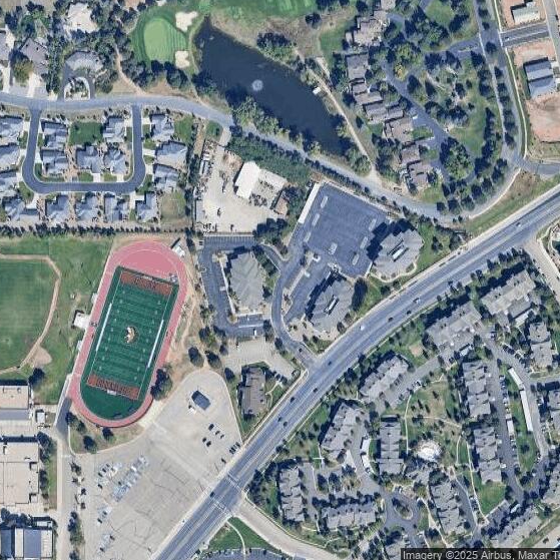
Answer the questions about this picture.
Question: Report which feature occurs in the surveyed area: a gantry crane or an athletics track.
athletics track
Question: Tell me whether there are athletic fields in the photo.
Yes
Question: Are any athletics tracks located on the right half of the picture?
No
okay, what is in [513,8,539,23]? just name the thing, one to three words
house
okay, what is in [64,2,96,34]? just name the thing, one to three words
house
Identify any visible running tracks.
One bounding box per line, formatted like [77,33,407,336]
[69,240,187,427]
